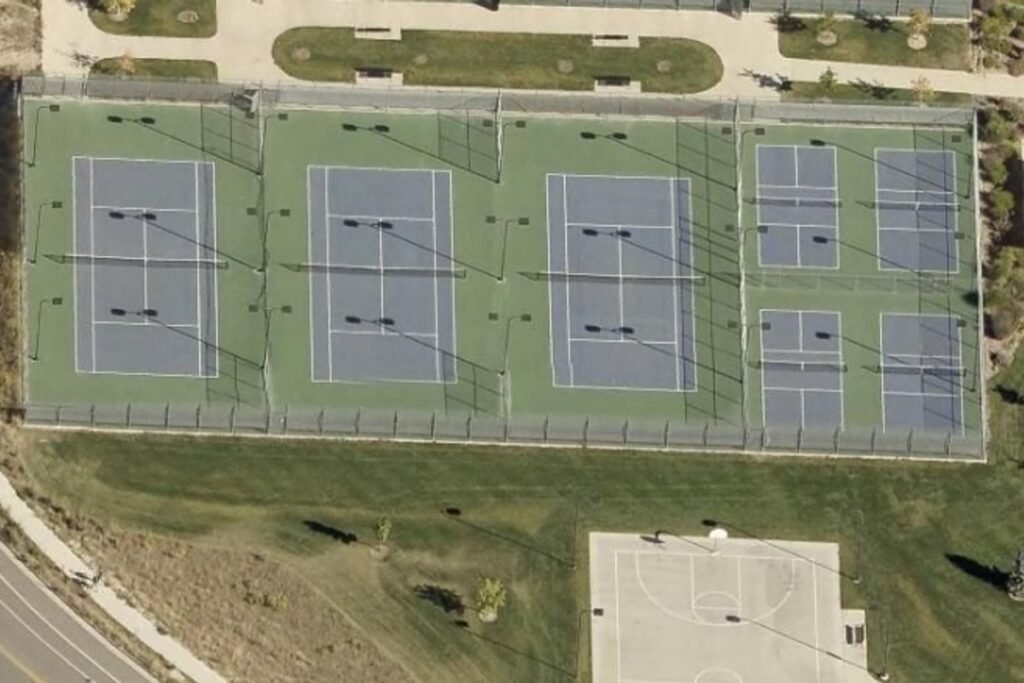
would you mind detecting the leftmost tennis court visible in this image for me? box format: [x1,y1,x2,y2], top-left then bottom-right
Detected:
[24,99,267,435]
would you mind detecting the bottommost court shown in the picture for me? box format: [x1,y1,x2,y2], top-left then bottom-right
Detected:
[590,533,880,683]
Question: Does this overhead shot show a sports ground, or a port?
sports ground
